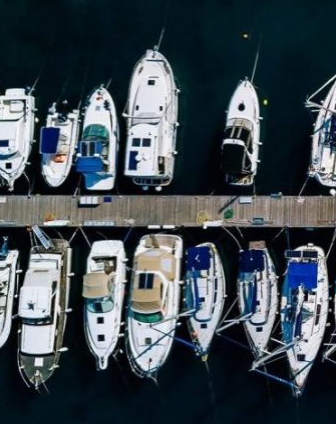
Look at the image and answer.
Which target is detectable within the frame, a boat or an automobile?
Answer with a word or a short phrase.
boat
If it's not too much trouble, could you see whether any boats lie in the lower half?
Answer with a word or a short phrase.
Yes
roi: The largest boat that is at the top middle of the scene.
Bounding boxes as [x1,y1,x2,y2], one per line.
[123,41,185,186]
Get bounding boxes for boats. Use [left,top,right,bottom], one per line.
[77,80,121,189]
[214,241,282,356]
[251,243,335,395]
[11,227,77,389]
[123,41,185,186]
[81,240,131,372]
[302,76,336,186]
[0,89,40,193]
[222,73,265,184]
[41,103,80,186]
[125,233,186,385]
[150,243,229,361]
[0,237,22,347]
